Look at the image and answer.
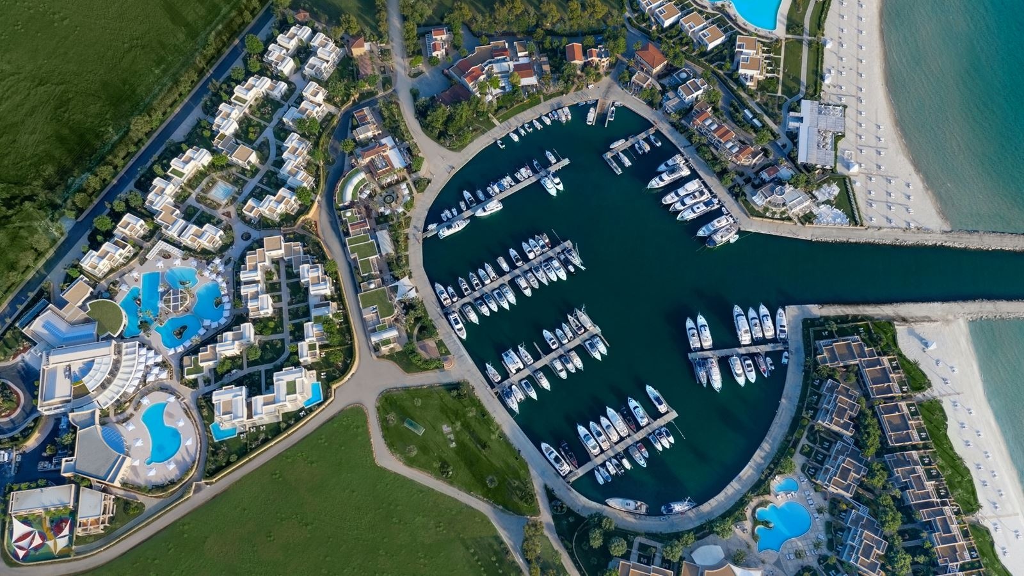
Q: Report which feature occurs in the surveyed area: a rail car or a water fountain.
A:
water fountain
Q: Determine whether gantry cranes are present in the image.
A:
No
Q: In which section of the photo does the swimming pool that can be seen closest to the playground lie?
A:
bottom left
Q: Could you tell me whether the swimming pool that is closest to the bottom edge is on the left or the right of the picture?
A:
right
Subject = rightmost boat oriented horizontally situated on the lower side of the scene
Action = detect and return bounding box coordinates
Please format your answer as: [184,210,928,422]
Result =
[661,499,697,515]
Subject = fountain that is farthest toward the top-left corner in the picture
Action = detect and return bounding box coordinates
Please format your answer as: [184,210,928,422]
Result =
[208,179,237,203]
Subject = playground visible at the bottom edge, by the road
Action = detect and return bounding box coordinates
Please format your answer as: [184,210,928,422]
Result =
[9,511,75,561]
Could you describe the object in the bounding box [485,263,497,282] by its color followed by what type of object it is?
white boat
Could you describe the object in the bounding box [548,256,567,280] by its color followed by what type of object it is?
white boat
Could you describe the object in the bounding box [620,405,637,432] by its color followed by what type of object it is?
black boat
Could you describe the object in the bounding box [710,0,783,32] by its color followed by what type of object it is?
blue swimming pool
